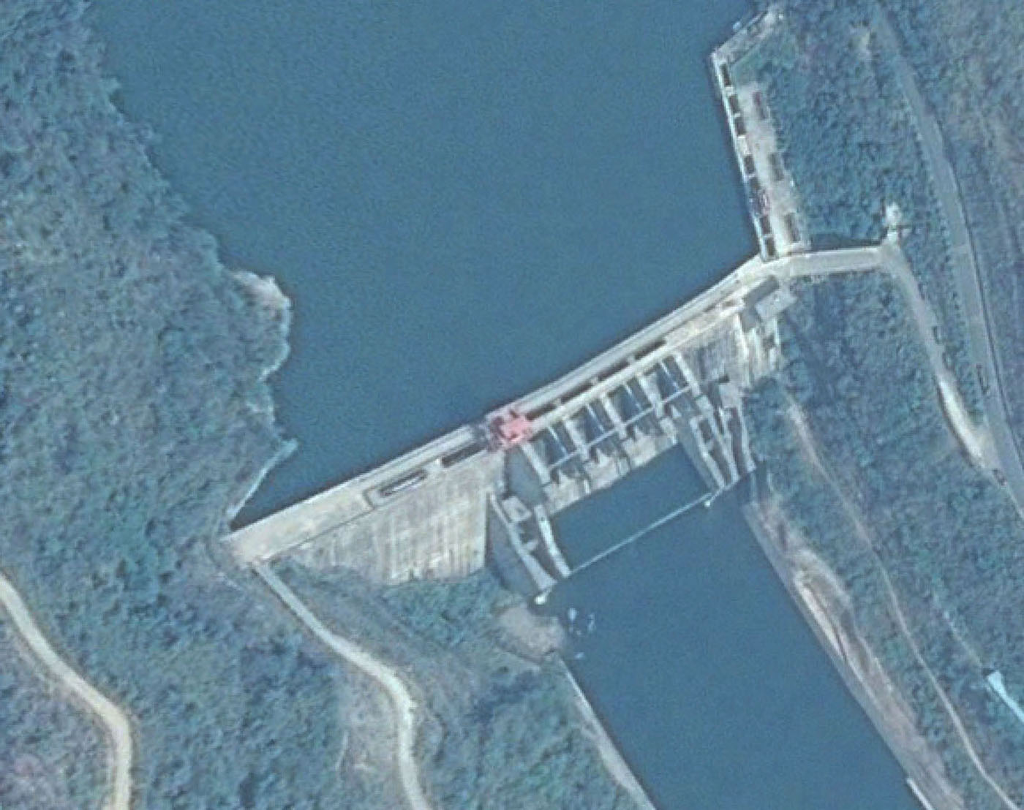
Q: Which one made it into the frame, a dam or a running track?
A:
dam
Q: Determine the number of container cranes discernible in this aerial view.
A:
1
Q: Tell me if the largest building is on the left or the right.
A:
right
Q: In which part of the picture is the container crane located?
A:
center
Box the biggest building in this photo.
[744,282,800,331]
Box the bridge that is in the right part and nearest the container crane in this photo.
[532,312,746,442]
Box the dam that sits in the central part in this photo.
[233,256,783,605]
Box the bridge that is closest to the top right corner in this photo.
[765,246,882,277]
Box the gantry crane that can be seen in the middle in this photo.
[486,404,538,455]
